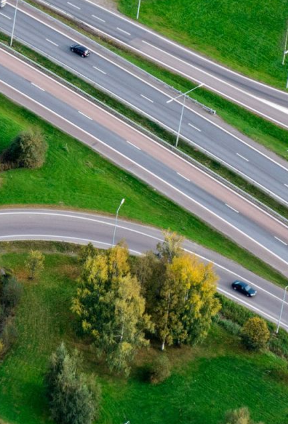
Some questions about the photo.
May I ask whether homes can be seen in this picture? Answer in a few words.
No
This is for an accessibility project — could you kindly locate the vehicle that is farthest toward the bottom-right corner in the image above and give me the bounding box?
[231,280,258,298]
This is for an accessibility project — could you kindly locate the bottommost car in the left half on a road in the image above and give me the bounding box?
[69,45,92,58]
